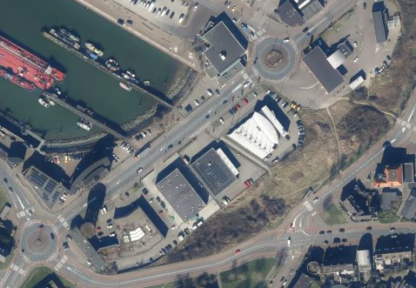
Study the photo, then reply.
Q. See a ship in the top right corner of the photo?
No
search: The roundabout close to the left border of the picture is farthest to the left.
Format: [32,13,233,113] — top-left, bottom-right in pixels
[17,220,61,263]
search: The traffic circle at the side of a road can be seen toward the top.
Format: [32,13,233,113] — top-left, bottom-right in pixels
[250,35,295,80]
